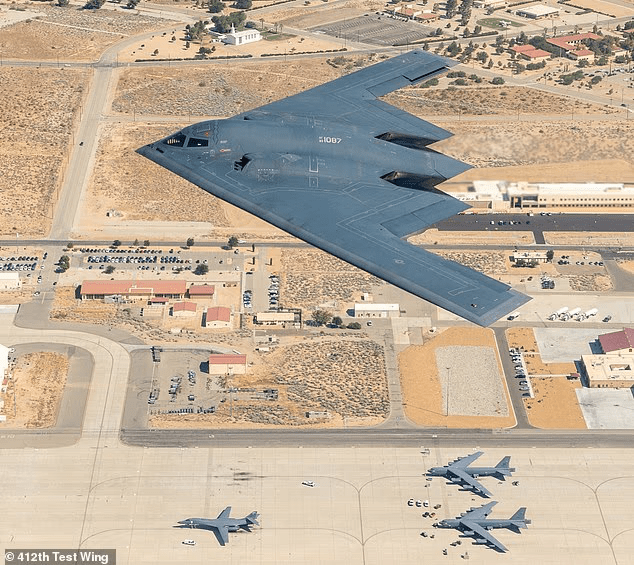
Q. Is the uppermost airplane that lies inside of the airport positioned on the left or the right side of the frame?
right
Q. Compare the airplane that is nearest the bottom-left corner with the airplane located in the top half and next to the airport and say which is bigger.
the airplane located in the top half and next to the airport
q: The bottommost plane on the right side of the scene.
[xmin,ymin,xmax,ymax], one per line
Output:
[435,499,529,551]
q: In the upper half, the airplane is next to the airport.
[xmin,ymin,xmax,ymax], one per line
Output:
[137,48,531,326]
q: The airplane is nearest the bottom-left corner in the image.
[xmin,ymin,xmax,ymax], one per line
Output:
[178,504,261,544]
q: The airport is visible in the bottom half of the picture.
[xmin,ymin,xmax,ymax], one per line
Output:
[0,303,634,565]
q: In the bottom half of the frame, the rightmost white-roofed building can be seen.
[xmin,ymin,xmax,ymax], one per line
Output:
[580,353,634,387]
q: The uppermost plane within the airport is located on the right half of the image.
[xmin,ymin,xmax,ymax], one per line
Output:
[428,449,518,497]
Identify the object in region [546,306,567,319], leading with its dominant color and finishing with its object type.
white vehicle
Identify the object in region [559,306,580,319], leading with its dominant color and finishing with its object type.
white vehicle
